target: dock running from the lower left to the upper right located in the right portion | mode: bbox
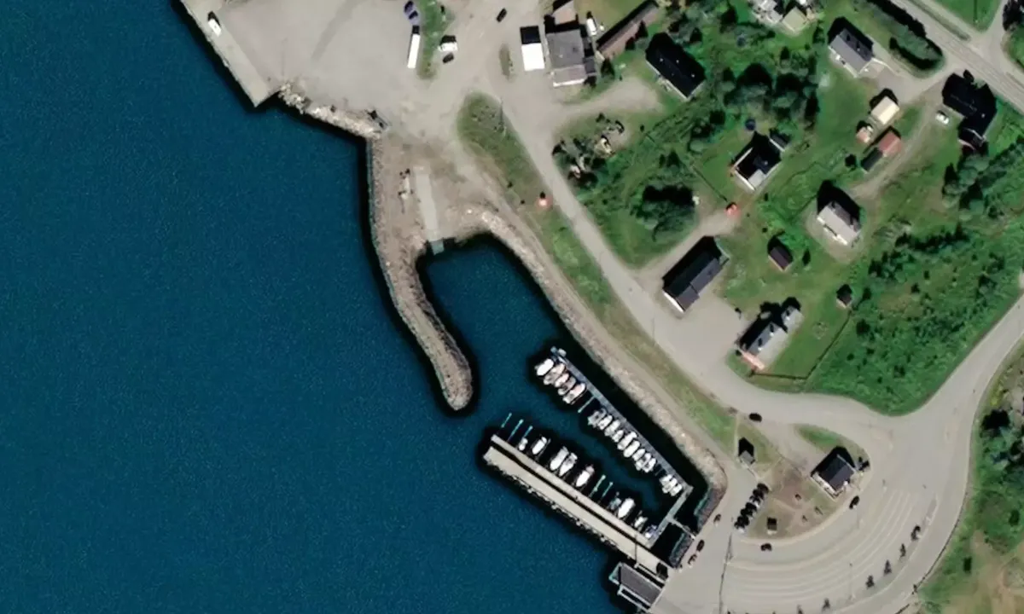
[650,488,690,545]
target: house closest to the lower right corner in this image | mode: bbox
[818,454,856,492]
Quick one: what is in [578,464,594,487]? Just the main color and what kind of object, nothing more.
white boat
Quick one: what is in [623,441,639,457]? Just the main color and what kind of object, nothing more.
white boat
